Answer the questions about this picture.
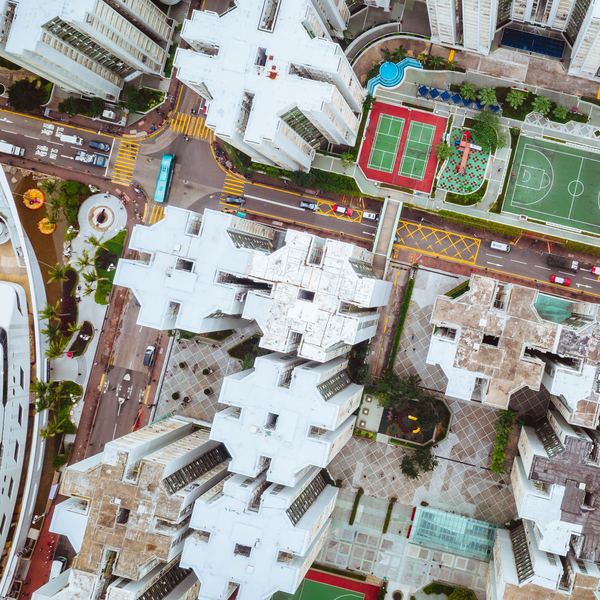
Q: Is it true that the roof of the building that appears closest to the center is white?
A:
Yes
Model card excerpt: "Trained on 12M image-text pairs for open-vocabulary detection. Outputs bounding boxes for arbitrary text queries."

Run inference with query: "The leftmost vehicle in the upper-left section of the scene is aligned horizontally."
[0,141,28,158]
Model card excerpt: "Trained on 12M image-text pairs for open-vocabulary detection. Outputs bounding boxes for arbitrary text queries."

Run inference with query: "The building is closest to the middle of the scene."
[239,231,394,365]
